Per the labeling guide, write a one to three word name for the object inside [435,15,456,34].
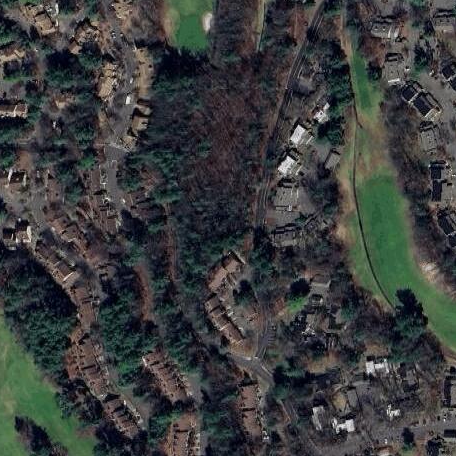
house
